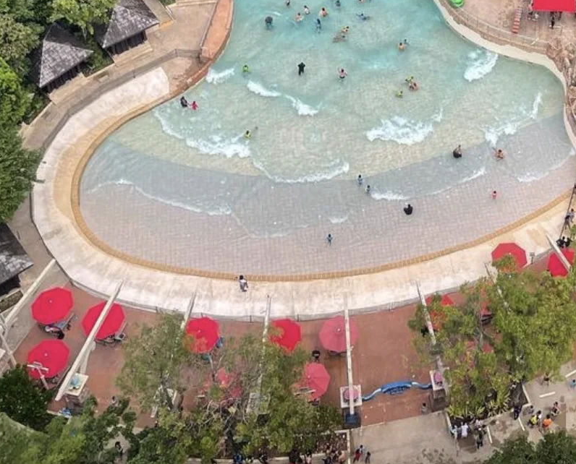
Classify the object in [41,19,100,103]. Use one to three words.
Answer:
shed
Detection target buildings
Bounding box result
[0,223,38,306]
[103,0,163,65]
[41,19,100,103]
